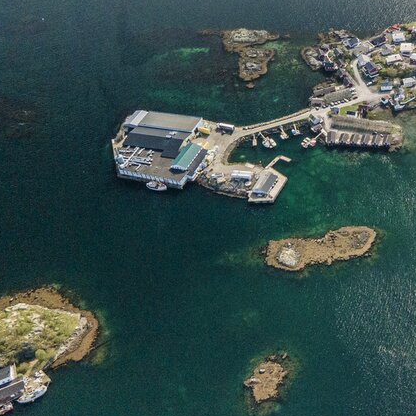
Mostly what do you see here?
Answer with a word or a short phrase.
water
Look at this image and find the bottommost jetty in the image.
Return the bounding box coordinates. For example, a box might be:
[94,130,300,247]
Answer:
[18,370,52,403]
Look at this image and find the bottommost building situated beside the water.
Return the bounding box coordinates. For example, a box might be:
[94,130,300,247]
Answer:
[0,376,24,409]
